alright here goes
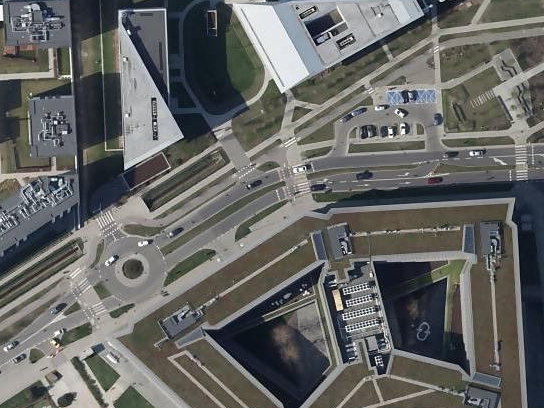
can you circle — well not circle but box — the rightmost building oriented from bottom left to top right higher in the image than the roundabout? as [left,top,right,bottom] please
[128,152,170,192]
